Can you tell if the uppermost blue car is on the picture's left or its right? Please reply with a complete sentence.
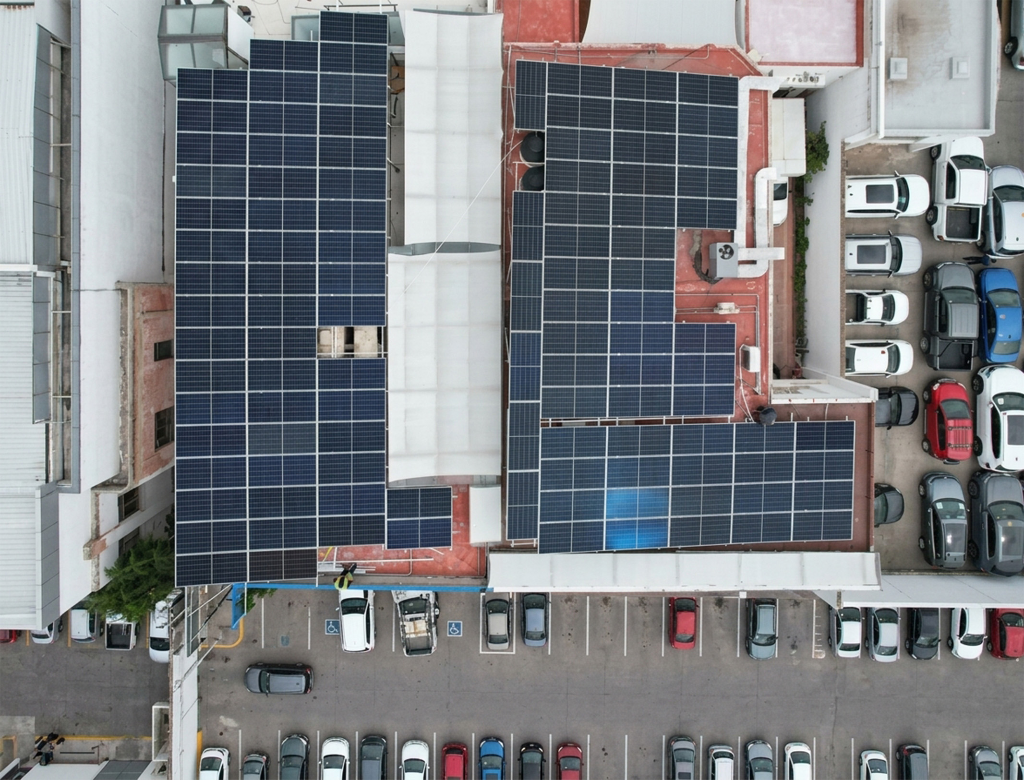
The uppermost blue car appears in the right half of the scene.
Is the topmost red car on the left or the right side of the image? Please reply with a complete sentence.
The topmost red car appears in the right half of the scene.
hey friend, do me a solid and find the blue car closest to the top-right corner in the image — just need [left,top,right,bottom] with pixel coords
[972,268,1024,361]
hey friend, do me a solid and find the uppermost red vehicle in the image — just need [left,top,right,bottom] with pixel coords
[922,379,978,465]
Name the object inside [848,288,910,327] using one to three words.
truck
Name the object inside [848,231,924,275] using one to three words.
car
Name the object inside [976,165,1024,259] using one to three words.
car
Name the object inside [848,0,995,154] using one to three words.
building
